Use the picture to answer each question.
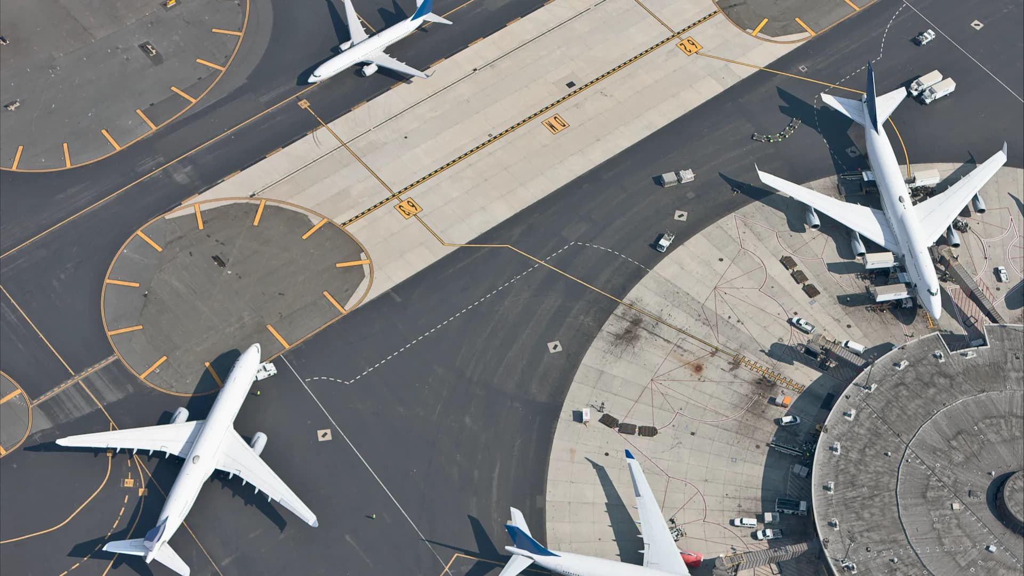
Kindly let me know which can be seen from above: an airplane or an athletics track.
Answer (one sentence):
The one in the frame is an airplane.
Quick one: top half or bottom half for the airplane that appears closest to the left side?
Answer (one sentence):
Seen from above, the airplane that appears closest to the left side lies in the bottom half of the view.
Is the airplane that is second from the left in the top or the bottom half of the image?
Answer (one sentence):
The airplane that is second from the left sits in the top half of the picture.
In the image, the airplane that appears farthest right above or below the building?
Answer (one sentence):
Looking at the photo, you'll find the airplane that appears farthest right above the building.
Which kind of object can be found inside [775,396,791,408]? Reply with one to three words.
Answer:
vehicle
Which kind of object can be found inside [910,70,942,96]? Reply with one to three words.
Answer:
truck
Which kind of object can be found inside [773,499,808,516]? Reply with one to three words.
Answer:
vehicle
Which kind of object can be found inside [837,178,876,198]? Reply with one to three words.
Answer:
work vehicle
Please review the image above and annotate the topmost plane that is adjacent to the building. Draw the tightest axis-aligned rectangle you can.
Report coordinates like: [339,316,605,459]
[755,60,1011,322]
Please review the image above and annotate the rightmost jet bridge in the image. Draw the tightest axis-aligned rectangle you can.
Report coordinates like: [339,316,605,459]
[927,242,1008,324]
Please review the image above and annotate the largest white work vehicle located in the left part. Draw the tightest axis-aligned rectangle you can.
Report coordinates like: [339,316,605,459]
[256,363,278,383]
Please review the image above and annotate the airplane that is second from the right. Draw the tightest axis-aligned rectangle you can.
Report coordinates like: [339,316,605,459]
[501,447,708,576]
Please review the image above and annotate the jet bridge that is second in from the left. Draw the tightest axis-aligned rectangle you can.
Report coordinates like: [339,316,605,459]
[802,334,865,382]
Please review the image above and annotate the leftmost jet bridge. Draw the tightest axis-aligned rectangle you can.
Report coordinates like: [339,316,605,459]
[711,539,812,576]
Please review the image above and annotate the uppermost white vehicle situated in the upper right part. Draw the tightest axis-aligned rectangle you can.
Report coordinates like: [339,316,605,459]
[916,31,935,45]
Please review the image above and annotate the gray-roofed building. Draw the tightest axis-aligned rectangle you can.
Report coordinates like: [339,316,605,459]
[809,322,1024,576]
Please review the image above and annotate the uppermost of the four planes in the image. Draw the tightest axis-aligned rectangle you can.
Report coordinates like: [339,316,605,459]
[308,0,453,84]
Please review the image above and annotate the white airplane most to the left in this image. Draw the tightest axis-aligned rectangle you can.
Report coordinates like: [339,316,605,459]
[57,346,319,572]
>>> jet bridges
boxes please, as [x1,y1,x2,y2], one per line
[927,242,1008,324]
[802,334,865,382]
[711,539,812,576]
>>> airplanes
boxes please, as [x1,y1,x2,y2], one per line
[755,60,1011,322]
[501,447,708,576]
[308,0,453,84]
[57,346,319,572]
